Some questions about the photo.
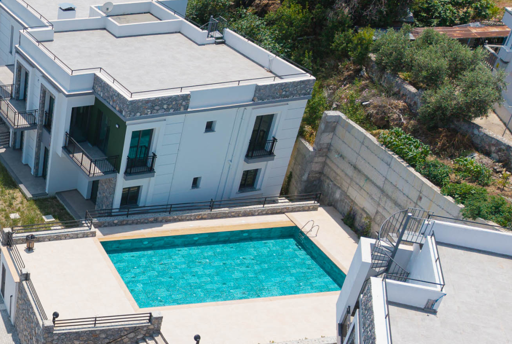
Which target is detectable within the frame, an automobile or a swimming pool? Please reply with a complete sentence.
I can see a swimming pool in this picture.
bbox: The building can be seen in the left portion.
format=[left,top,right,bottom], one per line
[0,0,323,237]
